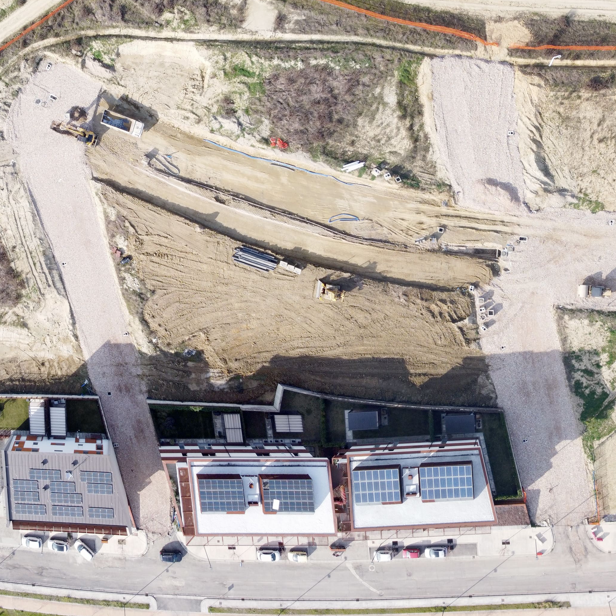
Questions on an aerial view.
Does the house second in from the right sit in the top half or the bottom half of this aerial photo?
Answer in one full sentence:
You can find the house second in from the right in the bottom half.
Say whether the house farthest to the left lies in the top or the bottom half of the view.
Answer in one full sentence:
You can find the house farthest to the left in the bottom half.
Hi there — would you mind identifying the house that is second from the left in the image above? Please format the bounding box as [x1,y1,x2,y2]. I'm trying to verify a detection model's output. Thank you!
[162,433,338,546]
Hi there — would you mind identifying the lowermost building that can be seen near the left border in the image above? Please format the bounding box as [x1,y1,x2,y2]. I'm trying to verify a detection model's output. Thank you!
[1,426,138,536]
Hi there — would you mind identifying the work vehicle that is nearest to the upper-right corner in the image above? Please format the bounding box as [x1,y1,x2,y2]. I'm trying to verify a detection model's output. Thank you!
[579,286,609,300]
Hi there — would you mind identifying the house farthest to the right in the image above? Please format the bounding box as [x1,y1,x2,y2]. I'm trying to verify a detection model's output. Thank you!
[332,428,498,541]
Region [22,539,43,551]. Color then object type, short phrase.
white vehicle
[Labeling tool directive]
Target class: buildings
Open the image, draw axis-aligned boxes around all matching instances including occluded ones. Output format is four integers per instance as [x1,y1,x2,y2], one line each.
[162,433,338,546]
[1,426,138,536]
[332,428,498,541]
